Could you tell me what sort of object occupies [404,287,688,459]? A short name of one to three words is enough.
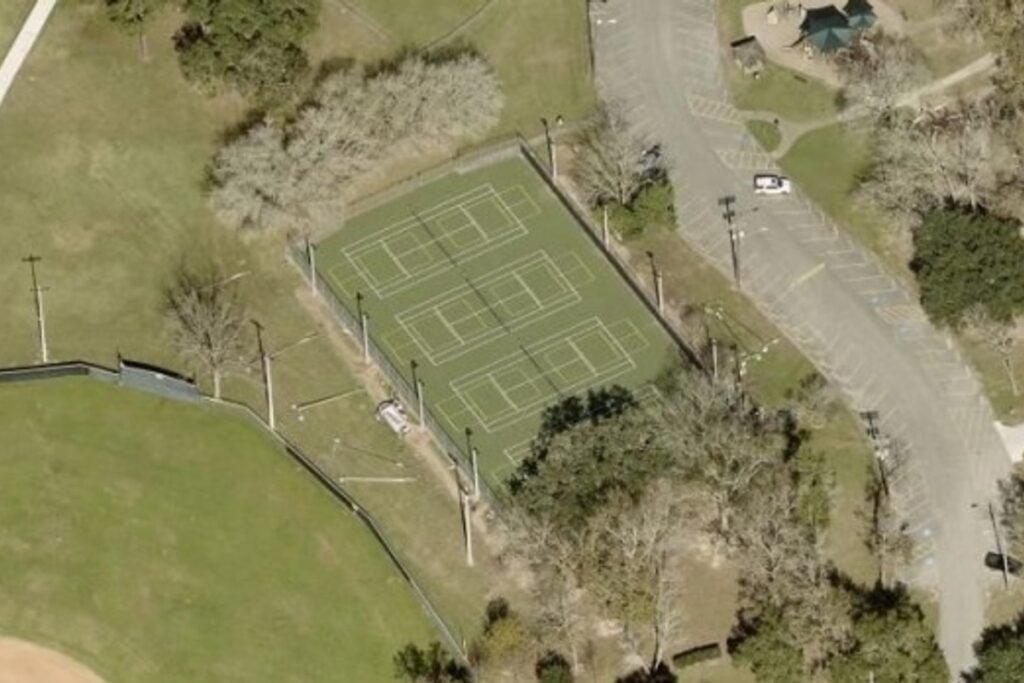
tennis court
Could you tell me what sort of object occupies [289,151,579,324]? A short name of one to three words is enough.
tennis court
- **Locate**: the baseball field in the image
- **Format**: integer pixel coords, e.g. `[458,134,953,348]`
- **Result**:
[0,374,472,683]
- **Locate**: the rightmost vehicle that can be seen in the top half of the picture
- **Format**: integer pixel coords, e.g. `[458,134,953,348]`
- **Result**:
[754,178,790,196]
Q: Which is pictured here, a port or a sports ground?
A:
sports ground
